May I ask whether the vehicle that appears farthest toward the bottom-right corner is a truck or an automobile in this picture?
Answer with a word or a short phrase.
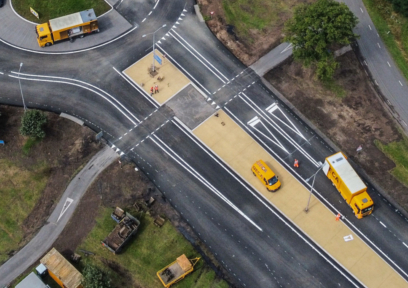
truck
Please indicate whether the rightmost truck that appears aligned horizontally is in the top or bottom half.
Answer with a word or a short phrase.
top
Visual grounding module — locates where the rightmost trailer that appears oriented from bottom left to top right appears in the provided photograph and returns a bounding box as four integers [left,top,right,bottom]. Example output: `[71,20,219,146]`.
[158,253,203,288]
